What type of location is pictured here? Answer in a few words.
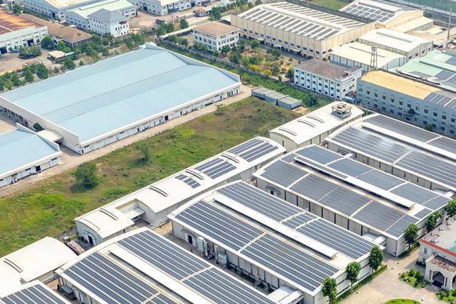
industrial area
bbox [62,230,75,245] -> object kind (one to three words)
vehicle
